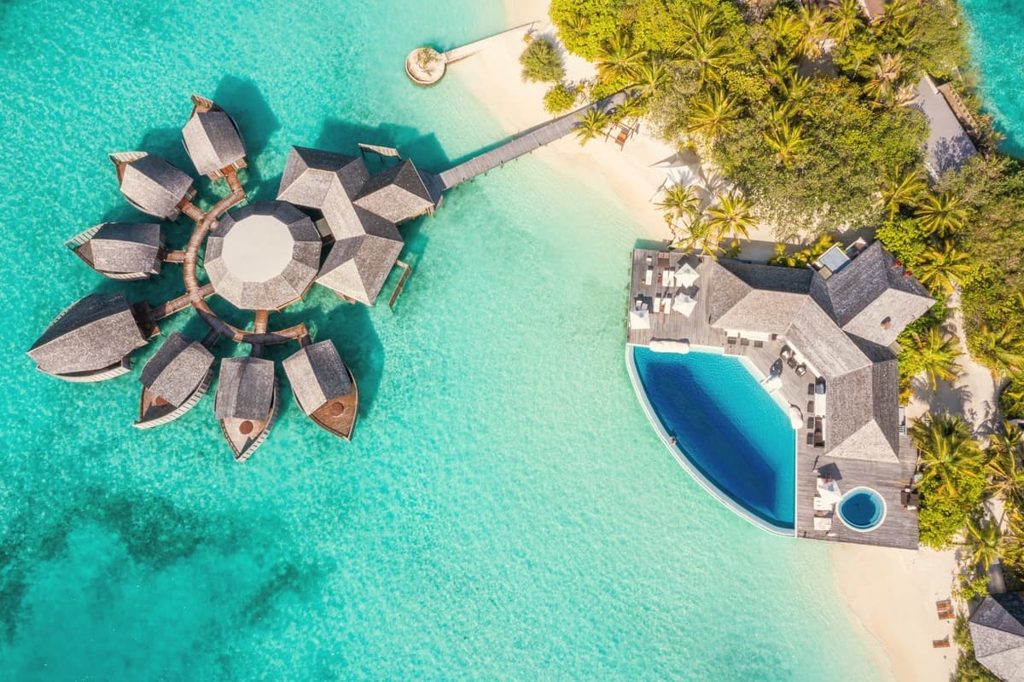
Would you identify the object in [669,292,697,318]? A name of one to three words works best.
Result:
umbrella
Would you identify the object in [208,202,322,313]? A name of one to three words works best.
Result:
building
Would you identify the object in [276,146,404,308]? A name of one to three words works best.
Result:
building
